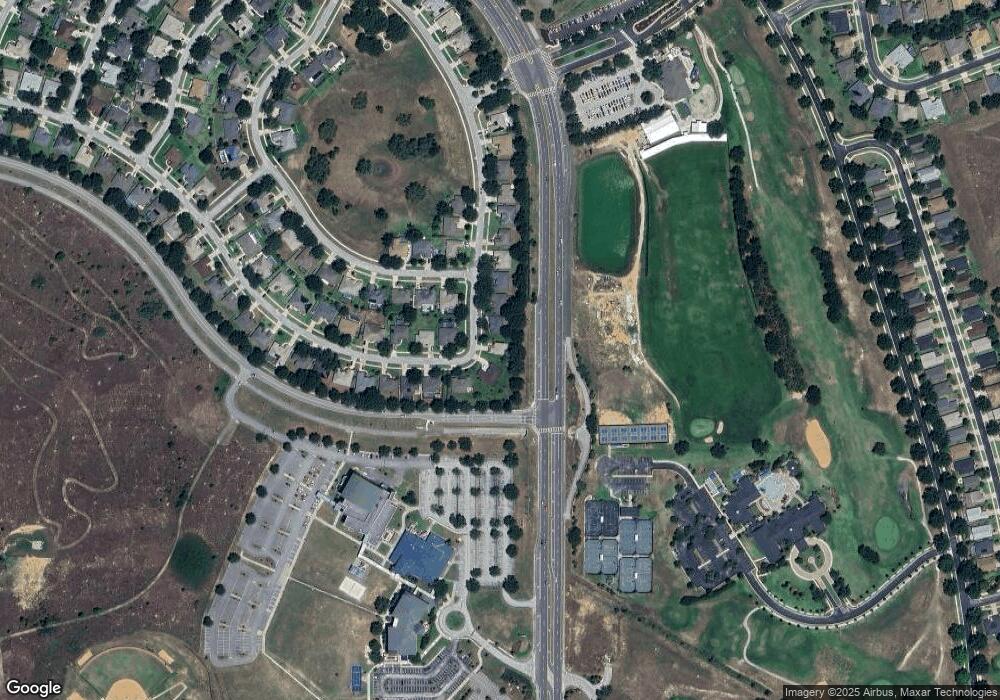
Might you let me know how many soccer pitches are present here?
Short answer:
none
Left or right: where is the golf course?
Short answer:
right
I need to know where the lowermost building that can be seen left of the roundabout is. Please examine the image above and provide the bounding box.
[385,592,435,663]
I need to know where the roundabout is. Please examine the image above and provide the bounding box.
[437,599,475,639]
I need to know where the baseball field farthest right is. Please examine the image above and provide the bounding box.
[80,645,187,700]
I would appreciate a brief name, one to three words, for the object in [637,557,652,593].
tennis court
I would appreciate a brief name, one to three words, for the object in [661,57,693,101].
building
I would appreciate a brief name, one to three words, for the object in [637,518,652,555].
tennis court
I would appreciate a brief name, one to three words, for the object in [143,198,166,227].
house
